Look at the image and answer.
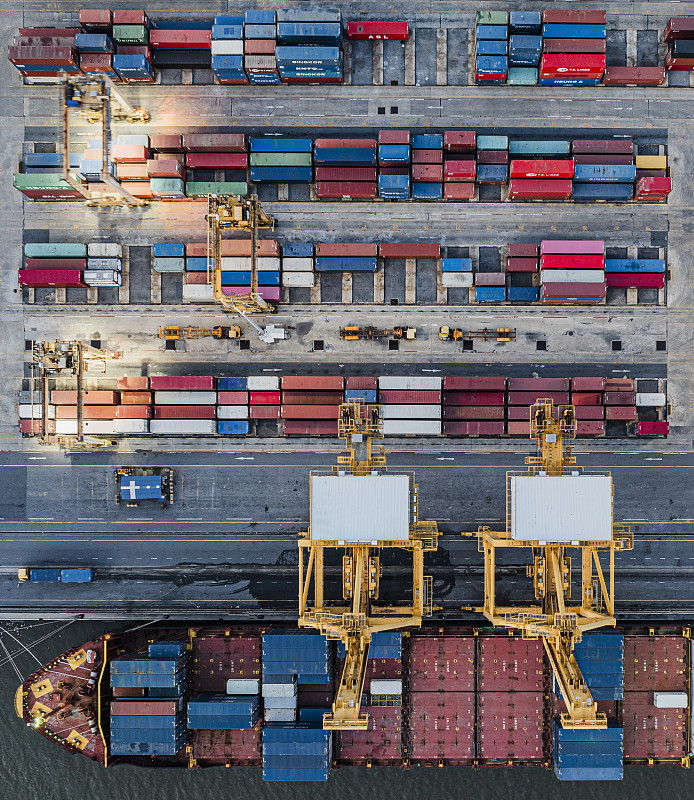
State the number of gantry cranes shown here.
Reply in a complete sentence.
I count 5 gantry cranes.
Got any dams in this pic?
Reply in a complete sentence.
No, the scene contains no dam.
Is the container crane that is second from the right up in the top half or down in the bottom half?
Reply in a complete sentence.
The container crane that is second from the right sits in the bottom half of the picture.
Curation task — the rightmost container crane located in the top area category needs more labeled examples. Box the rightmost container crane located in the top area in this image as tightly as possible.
[204,187,281,311]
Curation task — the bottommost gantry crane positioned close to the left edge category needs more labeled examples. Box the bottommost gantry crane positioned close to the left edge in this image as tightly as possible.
[30,335,124,448]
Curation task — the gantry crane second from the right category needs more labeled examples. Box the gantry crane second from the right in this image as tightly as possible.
[295,392,442,736]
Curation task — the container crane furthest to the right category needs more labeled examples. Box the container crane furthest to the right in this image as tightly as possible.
[461,392,635,736]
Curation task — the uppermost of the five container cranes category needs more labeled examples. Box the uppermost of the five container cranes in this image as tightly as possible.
[54,71,145,206]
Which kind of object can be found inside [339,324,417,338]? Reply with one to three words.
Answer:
vehicle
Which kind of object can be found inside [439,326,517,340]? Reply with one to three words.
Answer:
vehicle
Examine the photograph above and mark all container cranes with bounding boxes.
[461,392,635,736]
[30,335,124,448]
[204,187,281,311]
[295,392,442,736]
[54,71,145,206]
